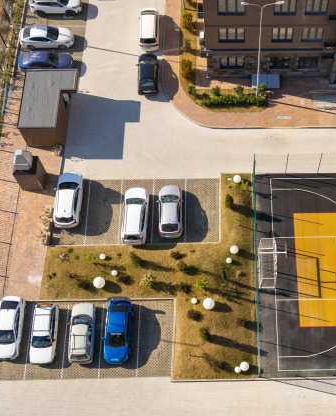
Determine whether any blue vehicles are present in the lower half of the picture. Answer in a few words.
Yes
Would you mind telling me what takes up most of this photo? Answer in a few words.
paved ground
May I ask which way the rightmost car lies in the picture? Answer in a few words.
vertically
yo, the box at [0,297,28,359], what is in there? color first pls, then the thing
white car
